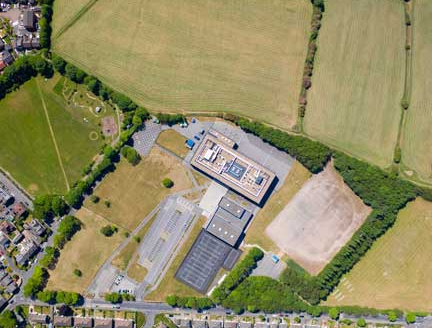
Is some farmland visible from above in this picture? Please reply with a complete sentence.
Yes, the picture does contain farmland.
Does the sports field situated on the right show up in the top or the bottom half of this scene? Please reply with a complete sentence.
You can find the sports field situated on the right in the bottom half.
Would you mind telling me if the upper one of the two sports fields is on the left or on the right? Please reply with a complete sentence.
The upper one of the two sports fields sits on the left side.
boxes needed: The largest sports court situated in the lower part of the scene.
[174,228,234,294]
